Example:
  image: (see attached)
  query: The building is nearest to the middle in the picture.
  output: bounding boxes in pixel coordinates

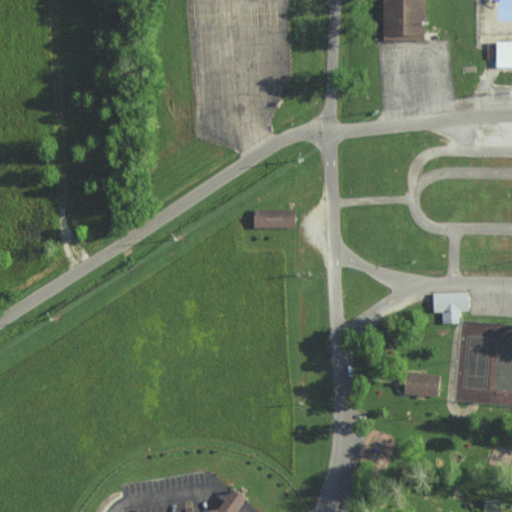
[254,210,296,230]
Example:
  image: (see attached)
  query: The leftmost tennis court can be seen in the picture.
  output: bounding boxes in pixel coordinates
[456,322,492,404]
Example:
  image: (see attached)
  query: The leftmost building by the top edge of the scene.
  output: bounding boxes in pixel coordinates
[384,0,428,43]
